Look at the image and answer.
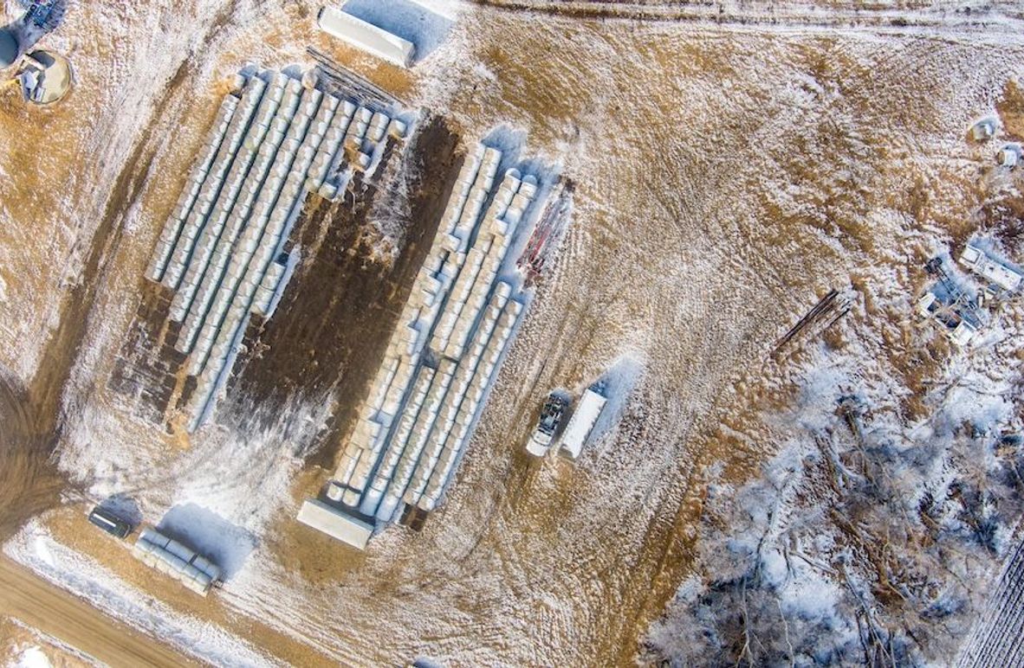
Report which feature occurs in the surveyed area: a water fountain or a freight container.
freight container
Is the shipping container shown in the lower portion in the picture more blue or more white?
white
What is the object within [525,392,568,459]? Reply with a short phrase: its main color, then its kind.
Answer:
white truck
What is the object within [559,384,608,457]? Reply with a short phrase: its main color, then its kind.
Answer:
white trailer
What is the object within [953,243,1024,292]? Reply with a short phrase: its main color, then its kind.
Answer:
white truck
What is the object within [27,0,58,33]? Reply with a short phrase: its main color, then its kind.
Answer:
blue work vehicle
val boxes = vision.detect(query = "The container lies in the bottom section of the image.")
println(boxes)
[297,493,378,551]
